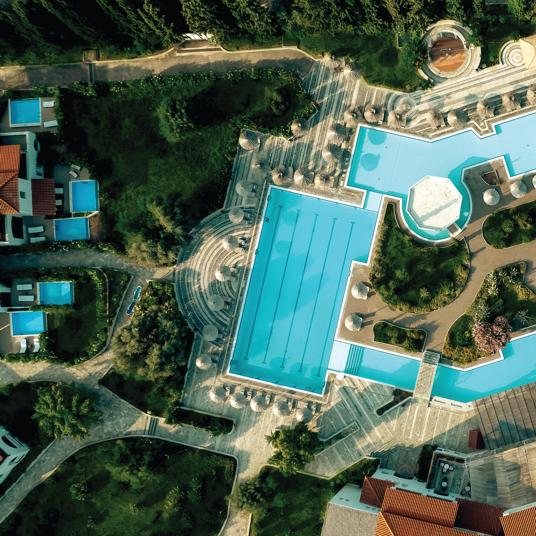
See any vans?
No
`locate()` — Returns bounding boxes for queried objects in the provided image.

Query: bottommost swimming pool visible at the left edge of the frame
[9,309,47,338]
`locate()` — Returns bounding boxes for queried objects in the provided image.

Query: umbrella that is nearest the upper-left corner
[239,130,258,150]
